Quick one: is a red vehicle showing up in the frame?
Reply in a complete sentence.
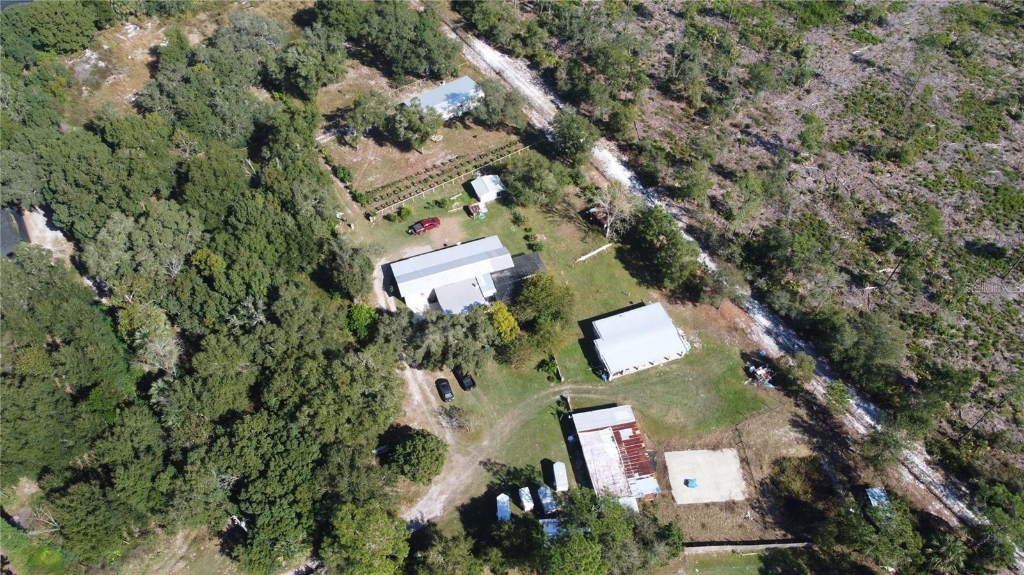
Yes, the photo shows a red vehicle.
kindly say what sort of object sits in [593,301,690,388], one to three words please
house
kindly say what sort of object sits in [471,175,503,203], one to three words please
shed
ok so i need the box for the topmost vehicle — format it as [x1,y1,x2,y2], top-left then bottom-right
[408,219,440,236]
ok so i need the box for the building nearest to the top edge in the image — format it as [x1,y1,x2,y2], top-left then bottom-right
[403,75,487,129]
